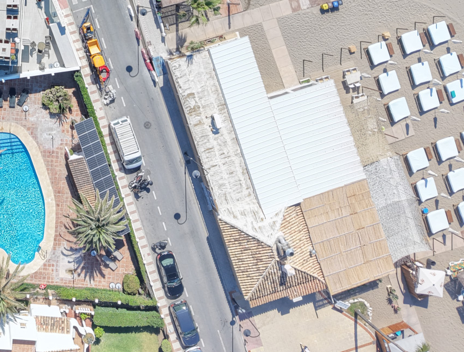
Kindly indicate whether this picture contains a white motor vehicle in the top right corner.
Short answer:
No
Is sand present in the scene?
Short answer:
Yes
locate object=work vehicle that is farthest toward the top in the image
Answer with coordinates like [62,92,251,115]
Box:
[82,21,98,47]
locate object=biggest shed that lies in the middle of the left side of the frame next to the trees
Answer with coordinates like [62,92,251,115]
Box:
[62,142,99,216]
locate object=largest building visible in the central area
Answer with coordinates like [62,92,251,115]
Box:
[157,37,404,310]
